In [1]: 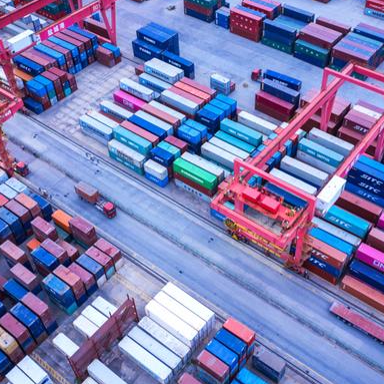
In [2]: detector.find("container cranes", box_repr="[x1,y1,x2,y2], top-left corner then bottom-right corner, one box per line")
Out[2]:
[0,91,23,180]
[208,63,384,275]
[0,0,121,111]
